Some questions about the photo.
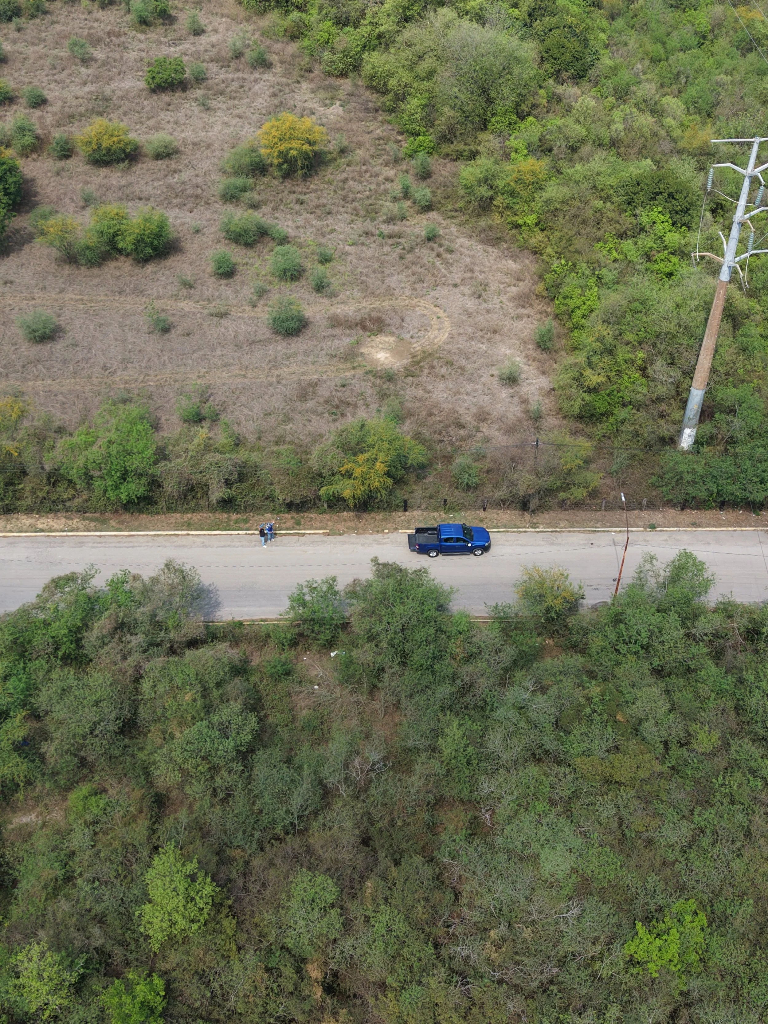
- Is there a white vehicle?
No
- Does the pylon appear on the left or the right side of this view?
right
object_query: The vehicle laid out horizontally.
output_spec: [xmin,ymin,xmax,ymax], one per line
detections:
[408,521,491,557]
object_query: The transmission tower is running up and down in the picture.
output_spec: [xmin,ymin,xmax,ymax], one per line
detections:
[676,136,768,452]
